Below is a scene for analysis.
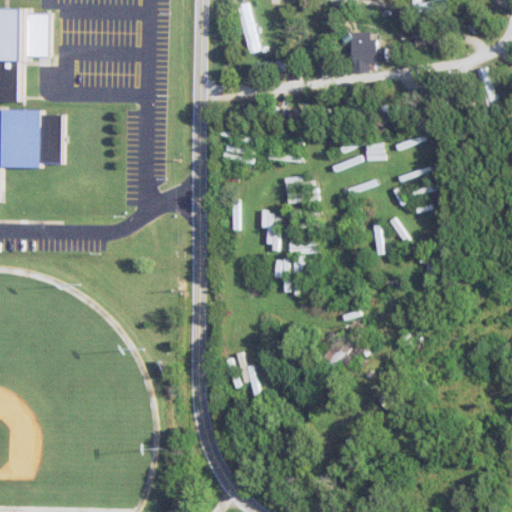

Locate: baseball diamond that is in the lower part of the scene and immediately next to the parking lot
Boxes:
[0,267,160,512]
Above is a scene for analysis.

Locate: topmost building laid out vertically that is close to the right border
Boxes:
[481,67,498,103]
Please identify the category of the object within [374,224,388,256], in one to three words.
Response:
house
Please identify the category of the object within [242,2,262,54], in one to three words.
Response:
house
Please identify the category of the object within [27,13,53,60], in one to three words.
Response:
building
